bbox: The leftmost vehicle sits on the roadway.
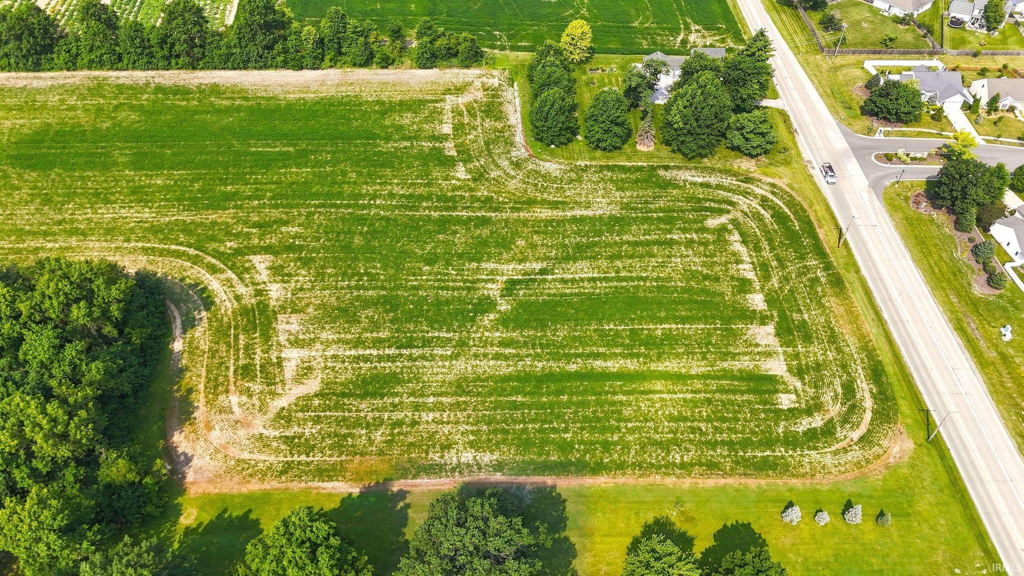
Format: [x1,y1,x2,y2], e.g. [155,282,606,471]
[821,165,837,183]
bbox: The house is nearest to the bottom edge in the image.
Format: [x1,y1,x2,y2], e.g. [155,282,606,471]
[988,201,1024,272]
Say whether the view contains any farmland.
Yes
